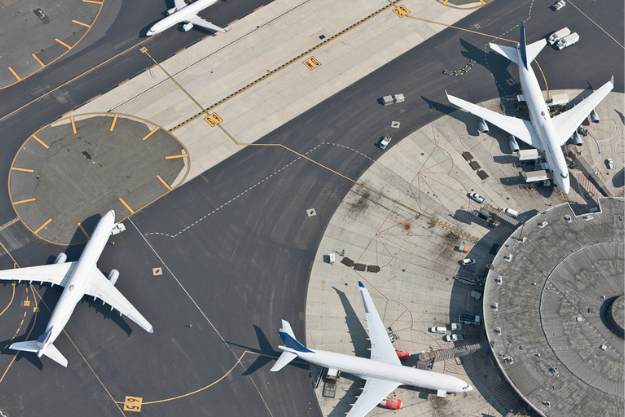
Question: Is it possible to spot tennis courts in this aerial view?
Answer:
No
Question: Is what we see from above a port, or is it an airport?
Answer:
airport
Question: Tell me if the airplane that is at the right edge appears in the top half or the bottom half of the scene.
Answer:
top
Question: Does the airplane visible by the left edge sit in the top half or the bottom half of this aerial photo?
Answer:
bottom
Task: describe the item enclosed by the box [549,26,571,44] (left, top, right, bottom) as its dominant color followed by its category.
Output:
white vehicle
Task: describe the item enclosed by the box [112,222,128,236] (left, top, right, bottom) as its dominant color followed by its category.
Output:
white vehicle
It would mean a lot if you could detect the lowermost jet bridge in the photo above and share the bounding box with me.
[414,341,488,372]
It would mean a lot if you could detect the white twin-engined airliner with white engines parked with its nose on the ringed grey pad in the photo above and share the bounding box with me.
[0,212,154,366]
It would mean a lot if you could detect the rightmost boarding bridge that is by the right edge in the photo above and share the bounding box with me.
[562,145,617,197]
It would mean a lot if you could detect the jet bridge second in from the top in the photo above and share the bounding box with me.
[482,201,525,233]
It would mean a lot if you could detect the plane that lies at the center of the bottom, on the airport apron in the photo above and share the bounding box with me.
[272,280,470,417]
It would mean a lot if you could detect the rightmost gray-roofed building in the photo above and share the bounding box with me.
[483,197,625,417]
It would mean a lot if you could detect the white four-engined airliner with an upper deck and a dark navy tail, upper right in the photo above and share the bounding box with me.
[446,23,616,197]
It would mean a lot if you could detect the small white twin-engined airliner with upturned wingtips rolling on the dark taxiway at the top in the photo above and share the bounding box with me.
[146,0,231,37]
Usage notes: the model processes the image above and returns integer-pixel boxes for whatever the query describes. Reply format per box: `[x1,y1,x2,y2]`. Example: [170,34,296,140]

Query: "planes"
[272,280,470,417]
[0,212,154,366]
[446,23,616,197]
[146,0,231,37]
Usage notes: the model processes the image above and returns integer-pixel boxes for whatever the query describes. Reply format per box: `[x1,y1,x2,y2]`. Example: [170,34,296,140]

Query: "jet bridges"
[482,201,525,233]
[414,341,488,372]
[562,145,617,197]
